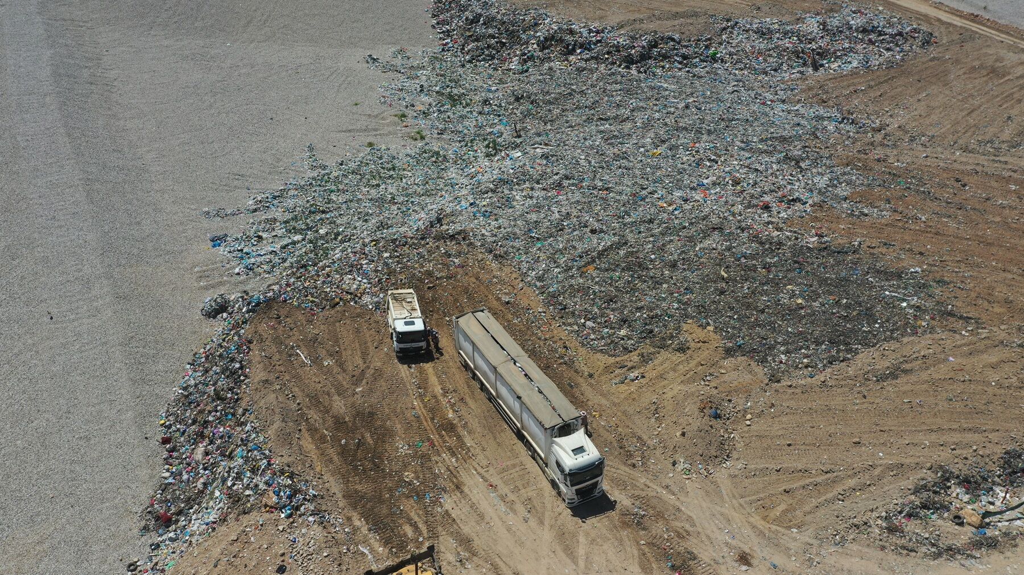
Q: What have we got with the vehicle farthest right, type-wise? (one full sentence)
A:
In the photo, the vehicle farthest right shows up as a truck.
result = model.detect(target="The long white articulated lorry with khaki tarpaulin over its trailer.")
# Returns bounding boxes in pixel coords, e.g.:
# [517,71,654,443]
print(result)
[455,309,609,503]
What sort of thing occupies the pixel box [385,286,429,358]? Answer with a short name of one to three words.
truck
